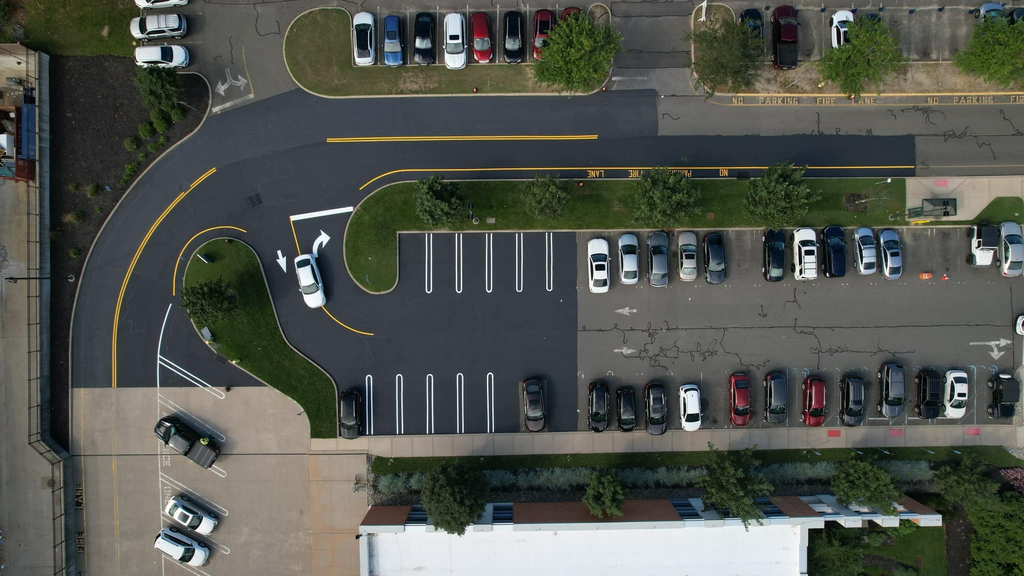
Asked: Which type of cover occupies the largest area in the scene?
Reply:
paved ground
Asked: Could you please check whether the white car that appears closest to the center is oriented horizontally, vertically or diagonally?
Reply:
vertically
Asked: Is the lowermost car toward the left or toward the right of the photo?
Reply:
left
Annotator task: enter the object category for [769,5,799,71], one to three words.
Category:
truck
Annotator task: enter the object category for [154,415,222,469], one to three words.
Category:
truck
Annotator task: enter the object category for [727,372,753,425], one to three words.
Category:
car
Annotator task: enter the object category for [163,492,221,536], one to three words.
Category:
car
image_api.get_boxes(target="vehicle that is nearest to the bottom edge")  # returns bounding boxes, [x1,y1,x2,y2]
[153,523,212,567]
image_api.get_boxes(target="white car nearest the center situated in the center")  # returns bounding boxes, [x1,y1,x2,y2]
[587,238,612,293]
